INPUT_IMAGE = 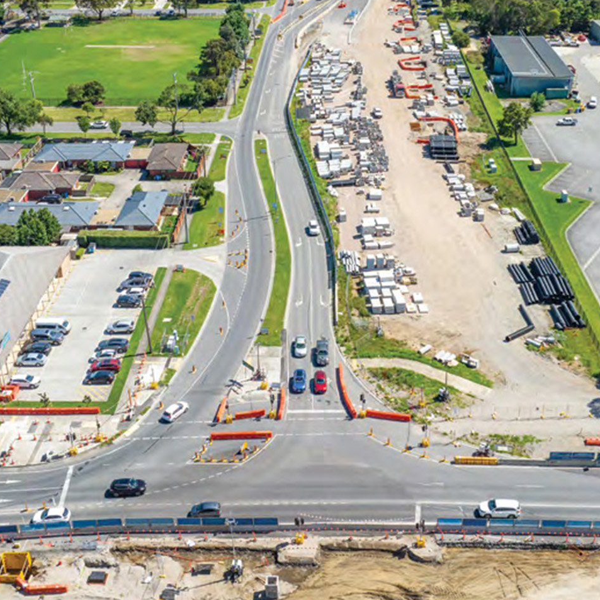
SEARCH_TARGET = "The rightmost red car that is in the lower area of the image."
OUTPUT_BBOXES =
[312,370,328,393]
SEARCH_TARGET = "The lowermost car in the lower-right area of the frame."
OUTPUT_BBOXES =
[477,497,522,519]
